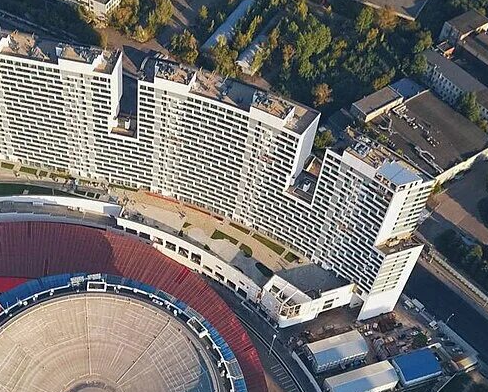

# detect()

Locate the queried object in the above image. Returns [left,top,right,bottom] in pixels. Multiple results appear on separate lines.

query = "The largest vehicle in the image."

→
[410,293,428,310]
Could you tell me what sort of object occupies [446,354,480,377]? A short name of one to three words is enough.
building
